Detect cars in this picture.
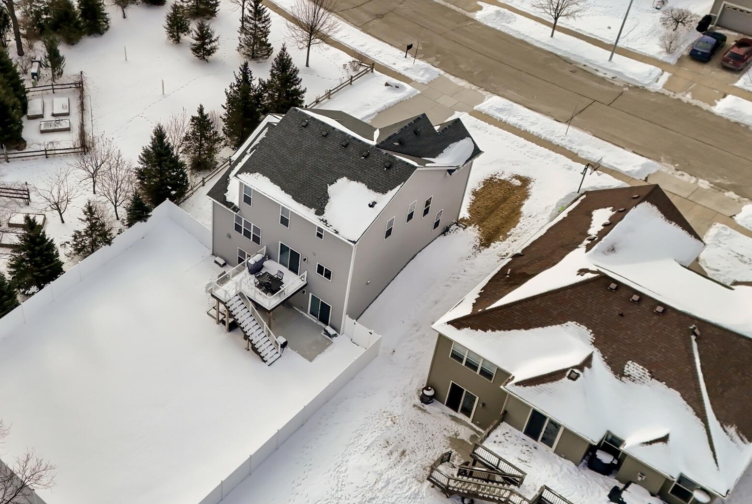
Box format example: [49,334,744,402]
[693,32,728,58]
[725,39,752,66]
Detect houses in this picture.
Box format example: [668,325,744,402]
[423,179,752,504]
[707,0,752,34]
[200,109,484,337]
